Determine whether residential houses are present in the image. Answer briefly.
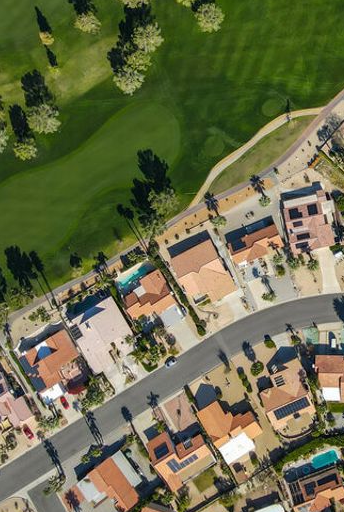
Yes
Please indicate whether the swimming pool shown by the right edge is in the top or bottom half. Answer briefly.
bottom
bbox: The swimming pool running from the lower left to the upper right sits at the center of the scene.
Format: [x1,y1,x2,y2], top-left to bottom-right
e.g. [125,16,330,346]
[115,260,159,297]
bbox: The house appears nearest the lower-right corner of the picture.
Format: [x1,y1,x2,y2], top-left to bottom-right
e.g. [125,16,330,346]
[288,467,344,512]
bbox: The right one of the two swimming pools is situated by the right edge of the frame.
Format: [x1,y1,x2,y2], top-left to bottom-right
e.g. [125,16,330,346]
[285,447,340,479]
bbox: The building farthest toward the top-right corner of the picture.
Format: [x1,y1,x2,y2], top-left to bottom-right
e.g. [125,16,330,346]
[283,191,338,253]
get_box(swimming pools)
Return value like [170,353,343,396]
[285,447,340,479]
[115,260,159,297]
